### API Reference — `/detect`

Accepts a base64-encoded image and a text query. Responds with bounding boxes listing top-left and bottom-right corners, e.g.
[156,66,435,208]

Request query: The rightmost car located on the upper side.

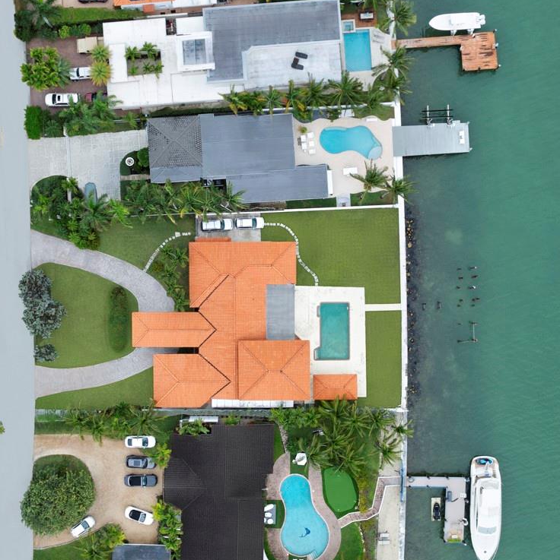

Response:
[234,214,265,229]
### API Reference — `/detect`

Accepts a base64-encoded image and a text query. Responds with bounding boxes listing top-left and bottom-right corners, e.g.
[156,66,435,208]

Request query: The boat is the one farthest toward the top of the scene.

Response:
[429,13,483,32]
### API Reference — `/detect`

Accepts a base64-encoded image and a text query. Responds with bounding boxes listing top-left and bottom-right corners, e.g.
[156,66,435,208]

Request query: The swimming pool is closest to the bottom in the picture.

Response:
[278,473,331,560]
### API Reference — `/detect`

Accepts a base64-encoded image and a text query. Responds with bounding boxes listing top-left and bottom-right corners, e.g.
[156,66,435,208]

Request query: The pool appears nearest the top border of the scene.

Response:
[340,18,355,32]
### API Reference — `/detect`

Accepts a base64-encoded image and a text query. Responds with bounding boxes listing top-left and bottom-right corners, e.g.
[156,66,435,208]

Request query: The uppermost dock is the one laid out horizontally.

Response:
[391,29,501,75]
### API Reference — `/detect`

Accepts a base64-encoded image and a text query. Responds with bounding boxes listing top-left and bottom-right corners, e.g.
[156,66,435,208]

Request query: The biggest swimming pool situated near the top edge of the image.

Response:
[341,26,375,74]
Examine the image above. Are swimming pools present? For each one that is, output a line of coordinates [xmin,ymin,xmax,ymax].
[341,26,375,74]
[314,301,351,361]
[278,473,331,560]
[340,18,355,32]
[317,124,384,161]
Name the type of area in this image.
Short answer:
residential area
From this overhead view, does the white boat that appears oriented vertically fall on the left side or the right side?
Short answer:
right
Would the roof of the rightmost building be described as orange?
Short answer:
Yes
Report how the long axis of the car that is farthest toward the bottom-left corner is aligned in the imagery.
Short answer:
at an angle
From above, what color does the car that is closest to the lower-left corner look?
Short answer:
white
